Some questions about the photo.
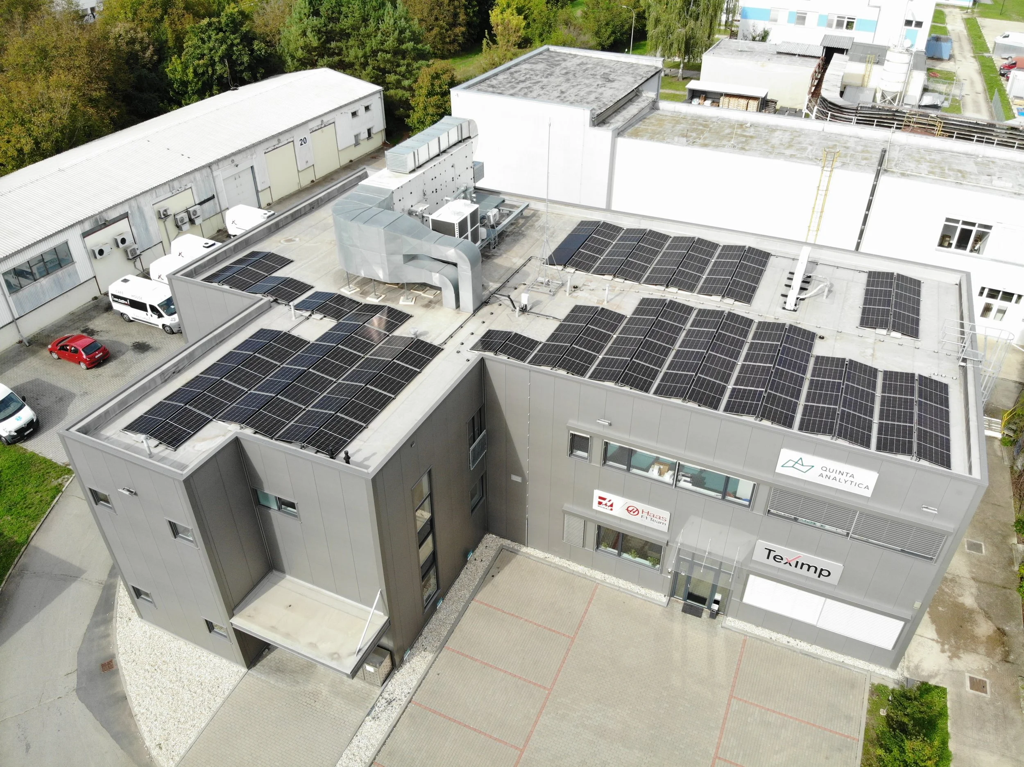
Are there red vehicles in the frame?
Yes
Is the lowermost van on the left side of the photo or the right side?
left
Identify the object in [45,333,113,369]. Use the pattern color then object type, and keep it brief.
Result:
red car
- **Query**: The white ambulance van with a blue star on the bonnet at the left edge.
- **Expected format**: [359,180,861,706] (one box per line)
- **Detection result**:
[0,391,42,445]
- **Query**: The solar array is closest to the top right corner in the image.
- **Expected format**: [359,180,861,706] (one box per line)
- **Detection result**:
[857,272,922,342]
